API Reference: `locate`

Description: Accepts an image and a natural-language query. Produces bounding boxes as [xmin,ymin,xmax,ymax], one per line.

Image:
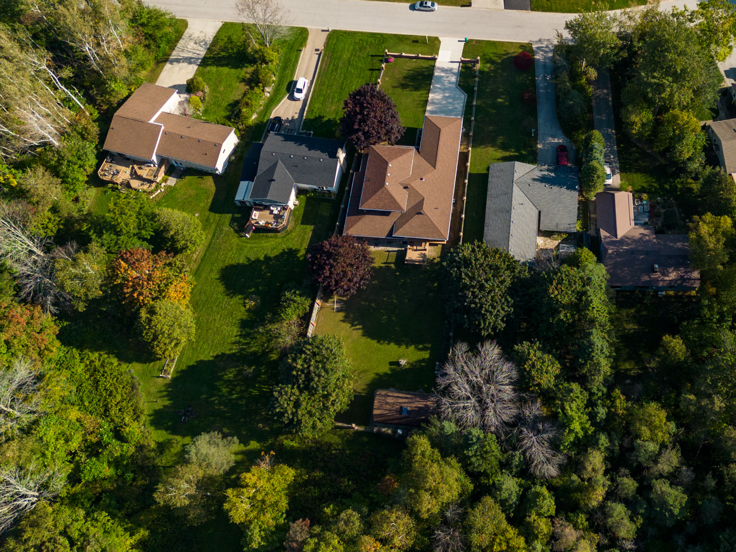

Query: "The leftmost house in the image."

[103,96,241,176]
